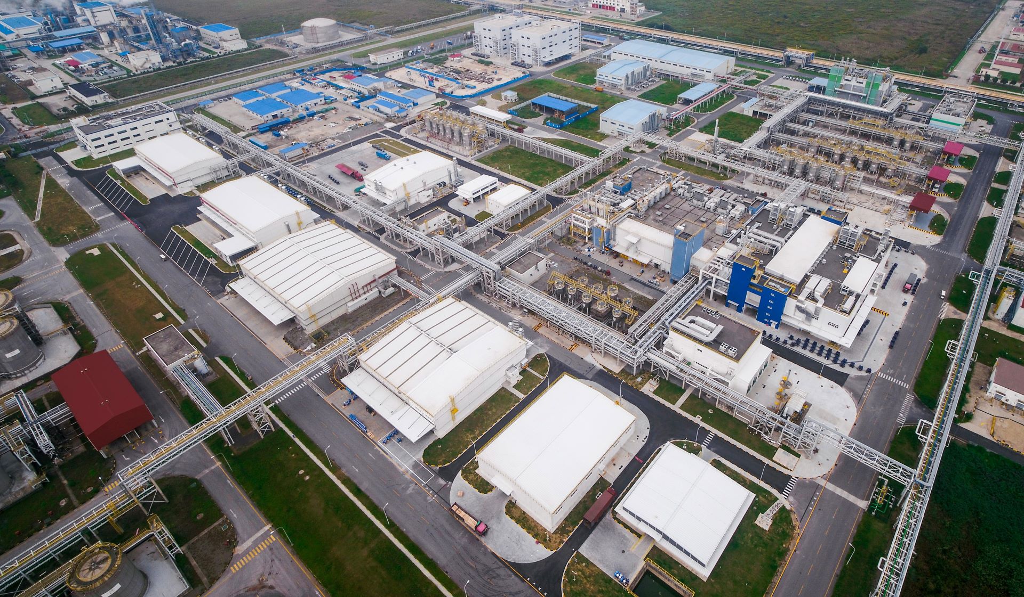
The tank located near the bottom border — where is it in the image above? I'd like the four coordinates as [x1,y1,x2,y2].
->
[63,541,146,597]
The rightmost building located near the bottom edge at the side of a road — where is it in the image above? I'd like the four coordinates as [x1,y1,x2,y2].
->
[612,438,755,576]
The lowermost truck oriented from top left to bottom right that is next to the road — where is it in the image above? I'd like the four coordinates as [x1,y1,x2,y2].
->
[447,497,489,532]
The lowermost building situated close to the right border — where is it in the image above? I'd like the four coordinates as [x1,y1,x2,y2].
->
[987,356,1024,409]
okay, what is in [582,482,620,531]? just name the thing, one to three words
truck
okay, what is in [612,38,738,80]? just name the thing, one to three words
building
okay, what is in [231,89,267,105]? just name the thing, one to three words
shed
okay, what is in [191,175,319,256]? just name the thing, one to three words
building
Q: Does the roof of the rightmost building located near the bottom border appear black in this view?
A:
No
